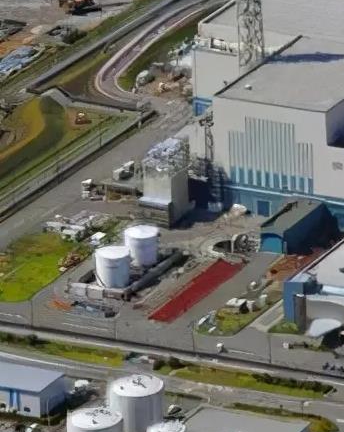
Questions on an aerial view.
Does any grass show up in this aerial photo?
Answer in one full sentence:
Yes, some grass is visible.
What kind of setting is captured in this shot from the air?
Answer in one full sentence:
The area seen from above is an industrial area.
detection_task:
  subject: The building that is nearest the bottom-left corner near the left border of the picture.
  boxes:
[0,360,69,417]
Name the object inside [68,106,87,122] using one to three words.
work vehicle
